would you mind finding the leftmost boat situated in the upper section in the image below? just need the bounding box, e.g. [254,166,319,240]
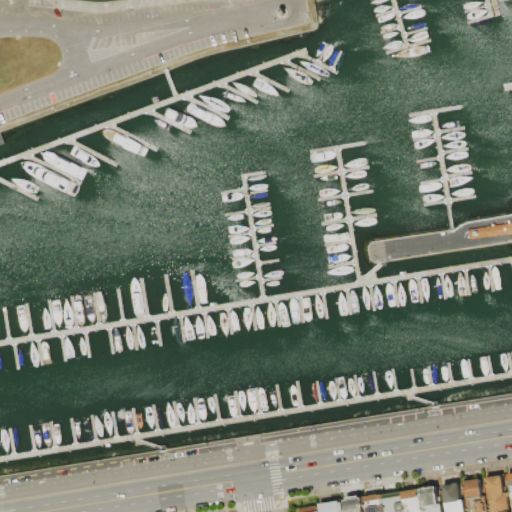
[12,178,40,194]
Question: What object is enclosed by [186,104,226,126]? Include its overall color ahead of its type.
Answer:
white boat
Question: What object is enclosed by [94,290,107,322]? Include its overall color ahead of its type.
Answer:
white boat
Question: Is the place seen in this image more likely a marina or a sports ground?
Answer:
marina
